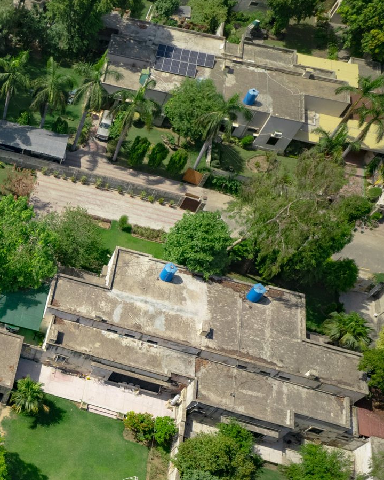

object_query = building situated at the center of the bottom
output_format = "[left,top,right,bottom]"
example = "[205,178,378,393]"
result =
[41,247,368,480]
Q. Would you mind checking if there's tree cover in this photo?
Yes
